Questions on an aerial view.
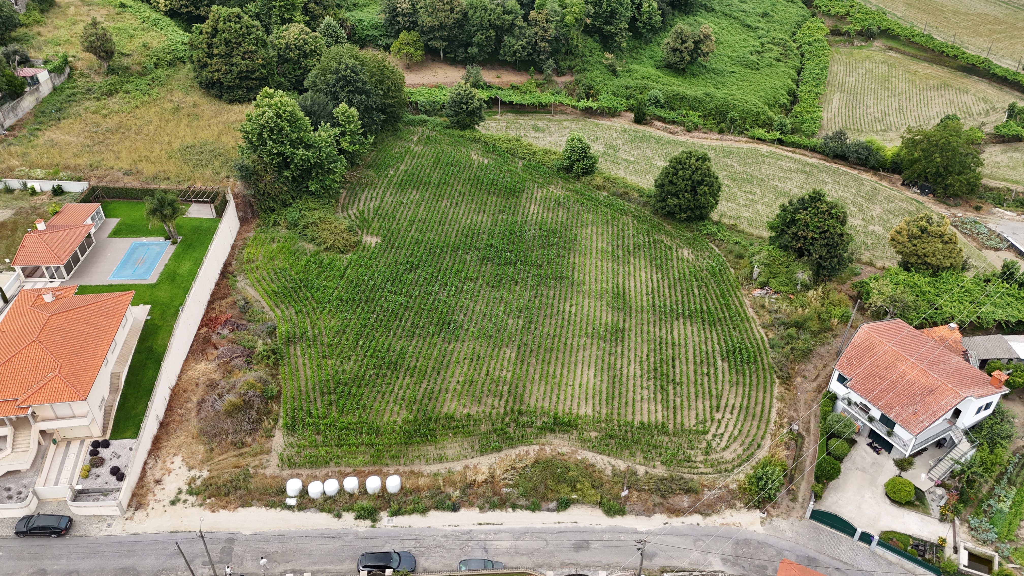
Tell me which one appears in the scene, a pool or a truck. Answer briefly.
pool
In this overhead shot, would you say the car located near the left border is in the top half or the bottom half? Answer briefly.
bottom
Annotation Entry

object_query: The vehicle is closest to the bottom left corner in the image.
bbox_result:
[7,512,74,540]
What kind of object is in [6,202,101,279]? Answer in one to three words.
building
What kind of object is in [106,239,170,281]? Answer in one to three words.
swimming pool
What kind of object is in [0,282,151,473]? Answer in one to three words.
house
